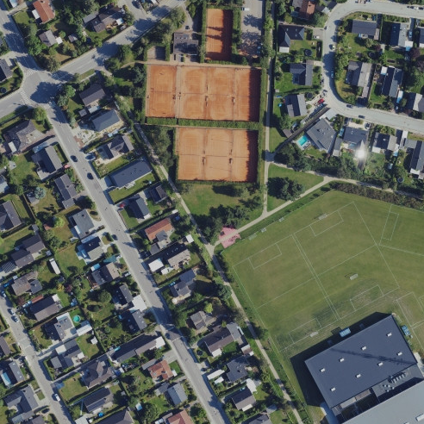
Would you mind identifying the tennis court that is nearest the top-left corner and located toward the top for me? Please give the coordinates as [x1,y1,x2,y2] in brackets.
[145,66,177,117]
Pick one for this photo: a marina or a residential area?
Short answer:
residential area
